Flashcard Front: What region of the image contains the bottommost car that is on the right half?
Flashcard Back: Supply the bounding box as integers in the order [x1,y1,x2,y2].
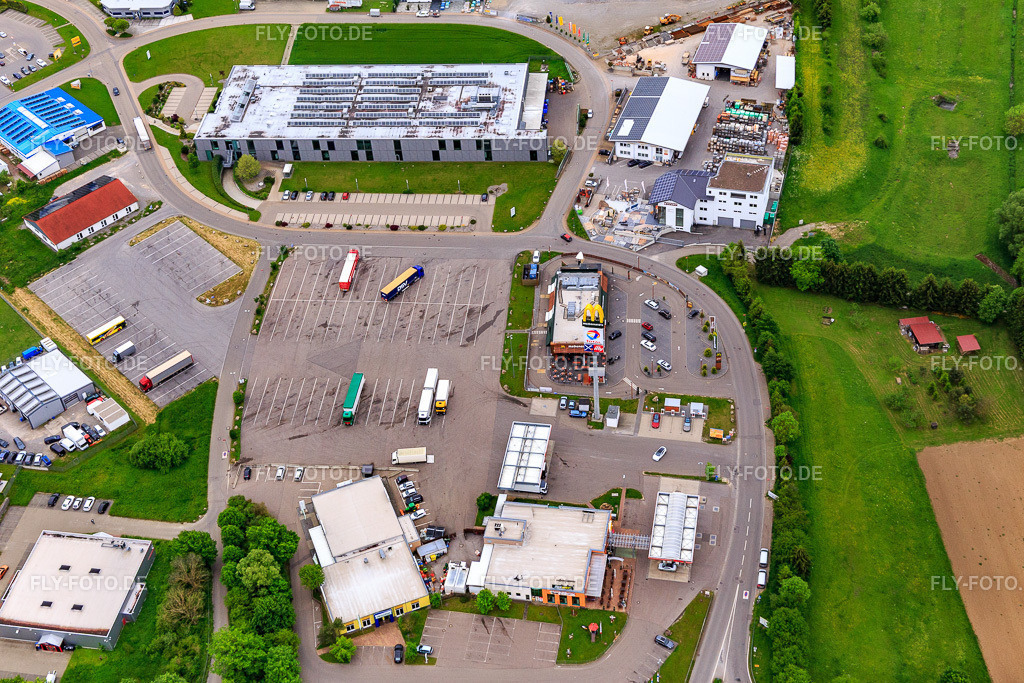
[654,635,674,649]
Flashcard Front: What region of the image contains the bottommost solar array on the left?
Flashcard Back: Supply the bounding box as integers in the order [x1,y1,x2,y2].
[33,177,112,216]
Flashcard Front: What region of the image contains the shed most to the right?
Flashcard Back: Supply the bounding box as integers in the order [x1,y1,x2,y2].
[957,334,980,358]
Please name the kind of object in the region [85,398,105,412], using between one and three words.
vehicle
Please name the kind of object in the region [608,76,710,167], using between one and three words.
building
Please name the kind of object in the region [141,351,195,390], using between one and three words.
truck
